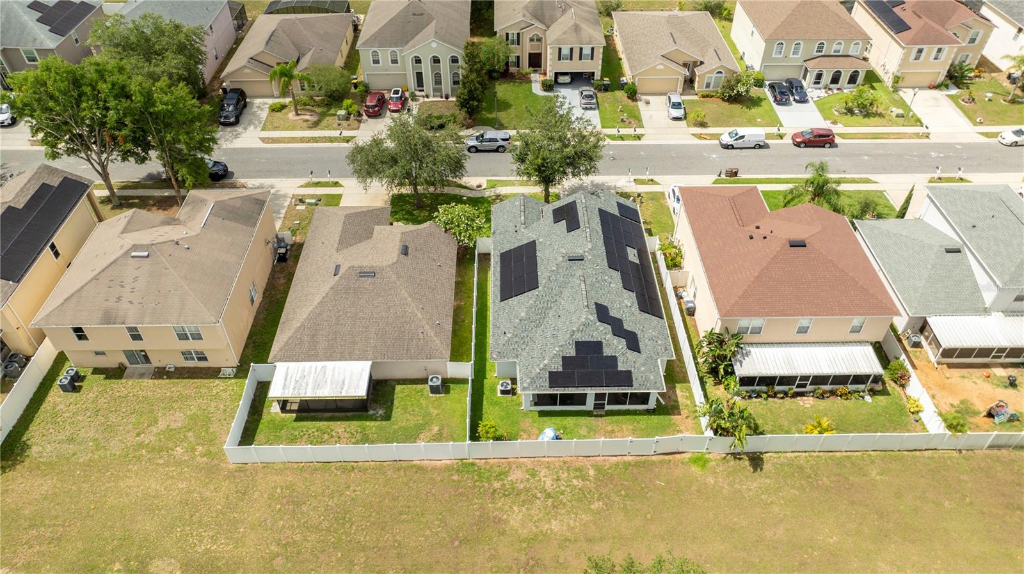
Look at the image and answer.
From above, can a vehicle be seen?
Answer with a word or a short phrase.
Yes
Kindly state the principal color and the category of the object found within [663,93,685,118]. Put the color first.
white car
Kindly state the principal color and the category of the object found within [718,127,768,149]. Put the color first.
white vehicle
